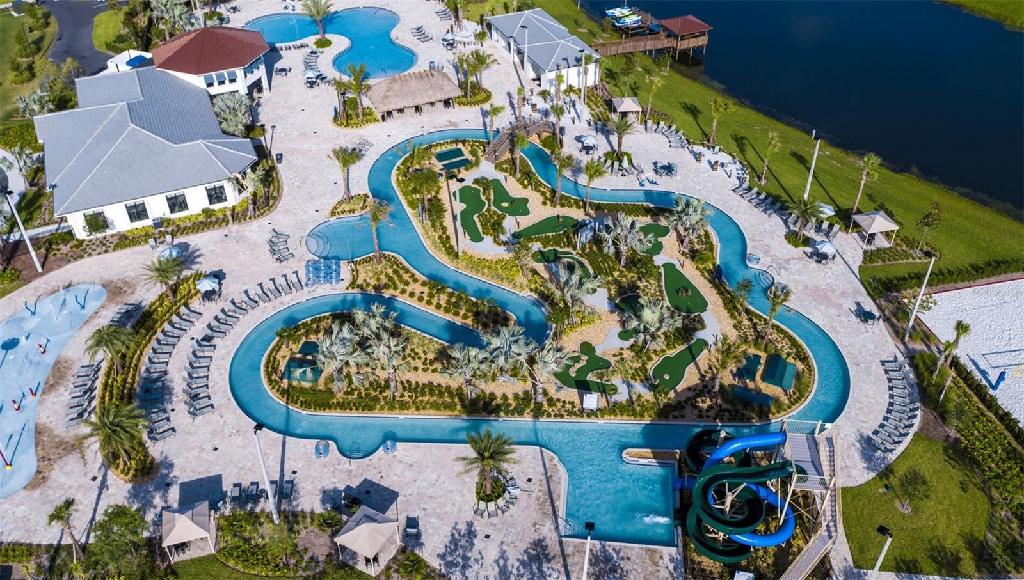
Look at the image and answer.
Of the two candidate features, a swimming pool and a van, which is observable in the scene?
swimming pool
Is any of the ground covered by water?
Yes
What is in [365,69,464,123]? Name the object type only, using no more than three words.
shed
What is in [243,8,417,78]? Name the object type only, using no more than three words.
swimming pool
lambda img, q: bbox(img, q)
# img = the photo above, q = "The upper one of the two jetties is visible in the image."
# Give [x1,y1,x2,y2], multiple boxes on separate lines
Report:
[617,0,663,33]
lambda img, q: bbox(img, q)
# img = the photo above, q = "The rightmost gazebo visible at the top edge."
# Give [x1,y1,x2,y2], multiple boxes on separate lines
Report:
[658,12,713,57]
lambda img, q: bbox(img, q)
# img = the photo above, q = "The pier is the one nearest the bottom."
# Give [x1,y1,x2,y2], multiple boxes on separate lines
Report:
[593,32,674,59]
